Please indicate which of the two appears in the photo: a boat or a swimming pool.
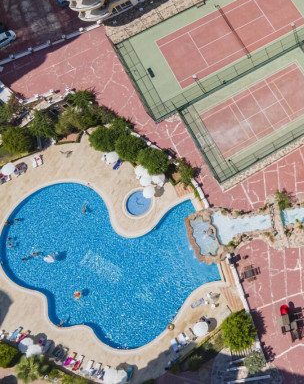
swimming pool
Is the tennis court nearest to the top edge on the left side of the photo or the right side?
right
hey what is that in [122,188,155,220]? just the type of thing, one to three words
swimming pool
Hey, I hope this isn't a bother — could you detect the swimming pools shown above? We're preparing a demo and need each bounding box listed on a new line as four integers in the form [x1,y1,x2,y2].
[0,180,226,352]
[122,188,155,220]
